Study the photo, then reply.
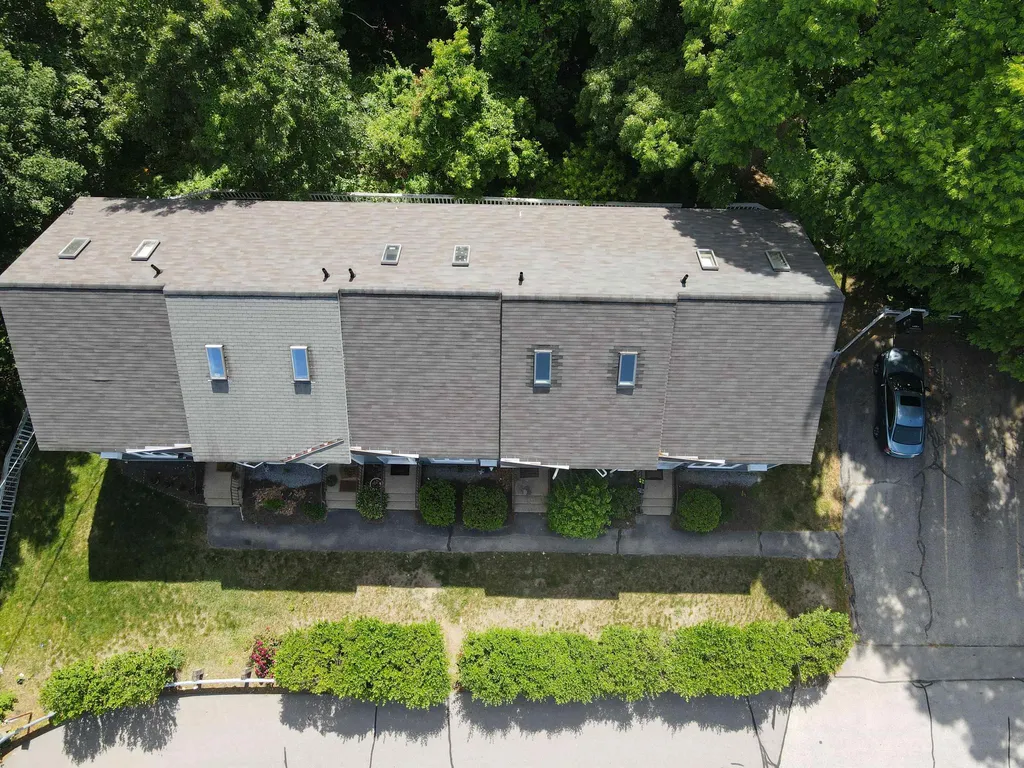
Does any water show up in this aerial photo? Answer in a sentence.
No, there is no water in the image.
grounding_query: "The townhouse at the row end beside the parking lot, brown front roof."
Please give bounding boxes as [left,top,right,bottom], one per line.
[643,197,844,514]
